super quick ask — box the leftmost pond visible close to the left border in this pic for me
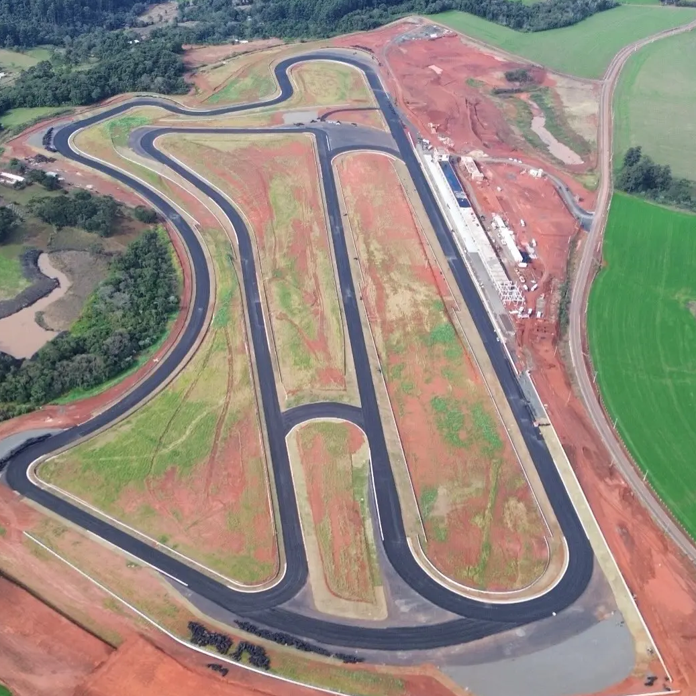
[0,255,73,361]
